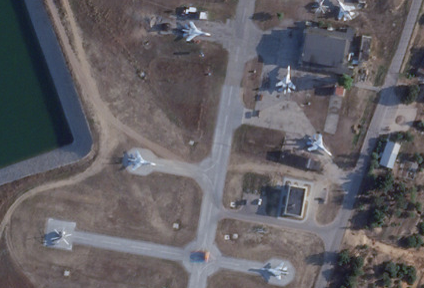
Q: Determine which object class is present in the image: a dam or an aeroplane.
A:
aeroplane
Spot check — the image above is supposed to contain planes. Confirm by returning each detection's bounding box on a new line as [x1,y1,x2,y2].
[259,262,292,282]
[336,0,356,24]
[127,152,156,171]
[279,66,298,95]
[306,132,331,155]
[180,20,211,41]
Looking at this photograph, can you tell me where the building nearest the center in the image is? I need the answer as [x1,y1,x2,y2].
[279,152,309,171]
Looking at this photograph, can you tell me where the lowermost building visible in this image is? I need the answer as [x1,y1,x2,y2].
[285,186,307,218]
